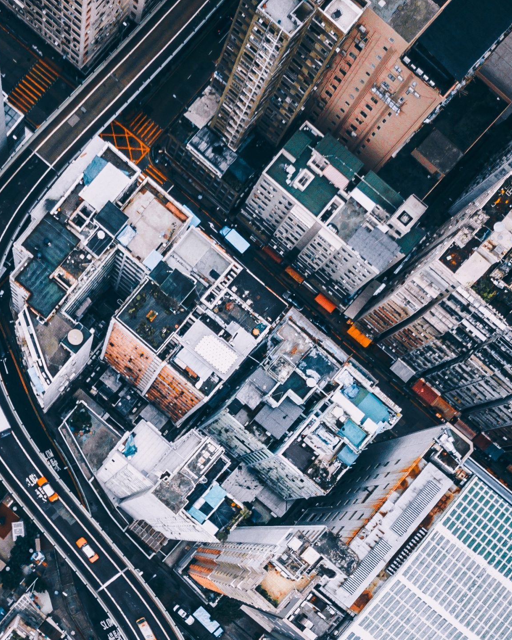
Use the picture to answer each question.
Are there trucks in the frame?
Yes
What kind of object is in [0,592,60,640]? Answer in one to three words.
building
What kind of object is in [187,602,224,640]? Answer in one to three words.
truck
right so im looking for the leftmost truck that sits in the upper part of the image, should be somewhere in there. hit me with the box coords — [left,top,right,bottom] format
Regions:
[190,209,214,233]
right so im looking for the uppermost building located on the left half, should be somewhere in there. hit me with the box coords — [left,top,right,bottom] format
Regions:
[0,0,148,71]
